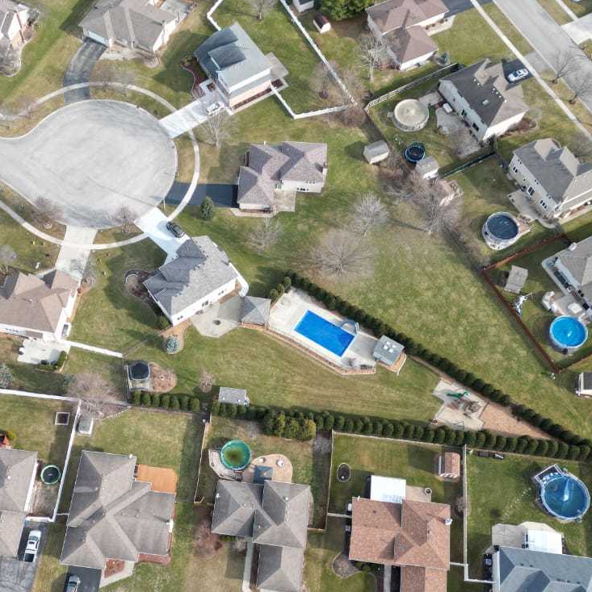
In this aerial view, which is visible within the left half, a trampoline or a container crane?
trampoline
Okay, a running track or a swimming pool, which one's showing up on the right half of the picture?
swimming pool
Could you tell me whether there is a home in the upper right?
Yes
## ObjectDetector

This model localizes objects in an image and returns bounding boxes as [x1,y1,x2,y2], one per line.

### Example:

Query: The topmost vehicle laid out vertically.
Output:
[22,529,40,564]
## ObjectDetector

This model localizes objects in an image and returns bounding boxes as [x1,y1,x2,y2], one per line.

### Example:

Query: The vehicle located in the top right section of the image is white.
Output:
[506,66,531,81]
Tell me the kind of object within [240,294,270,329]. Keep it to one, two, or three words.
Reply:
gazebo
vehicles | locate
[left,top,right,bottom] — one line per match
[165,218,187,239]
[506,66,531,81]
[22,529,40,564]
[64,575,78,592]
[203,100,224,114]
